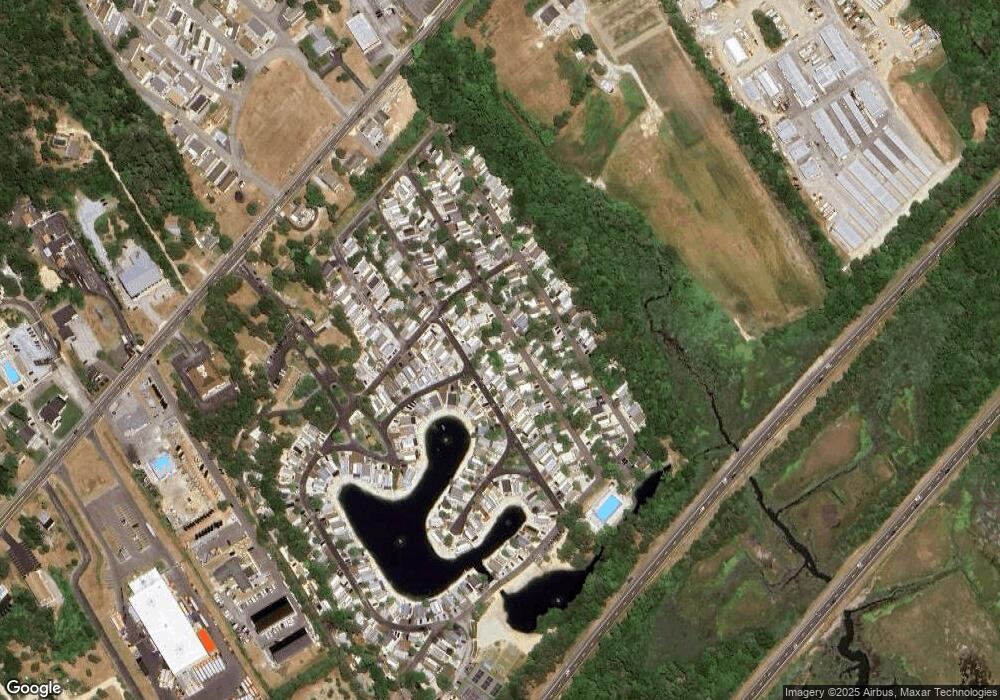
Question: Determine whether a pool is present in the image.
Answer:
Yes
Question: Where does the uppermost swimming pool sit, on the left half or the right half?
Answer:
left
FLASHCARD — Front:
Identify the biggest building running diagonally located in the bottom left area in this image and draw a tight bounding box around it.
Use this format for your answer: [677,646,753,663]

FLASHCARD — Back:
[129,560,208,664]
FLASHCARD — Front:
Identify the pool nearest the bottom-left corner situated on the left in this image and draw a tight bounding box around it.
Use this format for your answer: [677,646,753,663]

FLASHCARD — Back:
[147,451,175,480]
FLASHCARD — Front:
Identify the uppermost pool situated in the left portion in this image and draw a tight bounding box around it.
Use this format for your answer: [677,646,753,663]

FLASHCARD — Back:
[0,350,22,388]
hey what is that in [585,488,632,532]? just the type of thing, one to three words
swimming pool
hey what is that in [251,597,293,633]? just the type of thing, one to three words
shed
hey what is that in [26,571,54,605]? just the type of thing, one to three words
building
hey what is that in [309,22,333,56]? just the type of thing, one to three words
house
